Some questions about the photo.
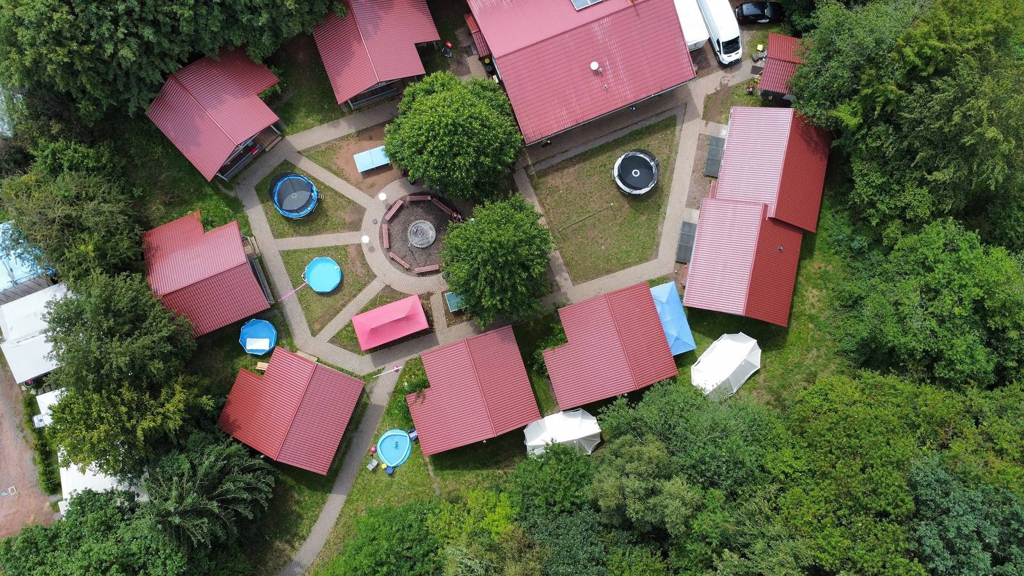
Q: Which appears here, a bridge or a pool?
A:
pool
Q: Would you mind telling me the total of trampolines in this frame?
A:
2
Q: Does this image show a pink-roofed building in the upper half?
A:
Yes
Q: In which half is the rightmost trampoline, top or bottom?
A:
top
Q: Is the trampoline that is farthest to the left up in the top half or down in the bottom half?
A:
top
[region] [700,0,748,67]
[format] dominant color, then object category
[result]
white van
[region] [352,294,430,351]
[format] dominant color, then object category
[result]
pink gazebo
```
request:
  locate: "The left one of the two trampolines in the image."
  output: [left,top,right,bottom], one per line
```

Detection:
[265,169,327,220]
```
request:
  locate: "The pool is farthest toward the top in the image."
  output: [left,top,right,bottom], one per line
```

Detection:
[299,257,343,294]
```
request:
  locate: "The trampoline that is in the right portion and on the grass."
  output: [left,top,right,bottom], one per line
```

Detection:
[611,145,663,196]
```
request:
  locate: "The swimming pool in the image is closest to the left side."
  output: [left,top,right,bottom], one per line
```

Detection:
[239,317,281,356]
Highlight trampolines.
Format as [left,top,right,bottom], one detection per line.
[265,169,327,220]
[611,145,663,196]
